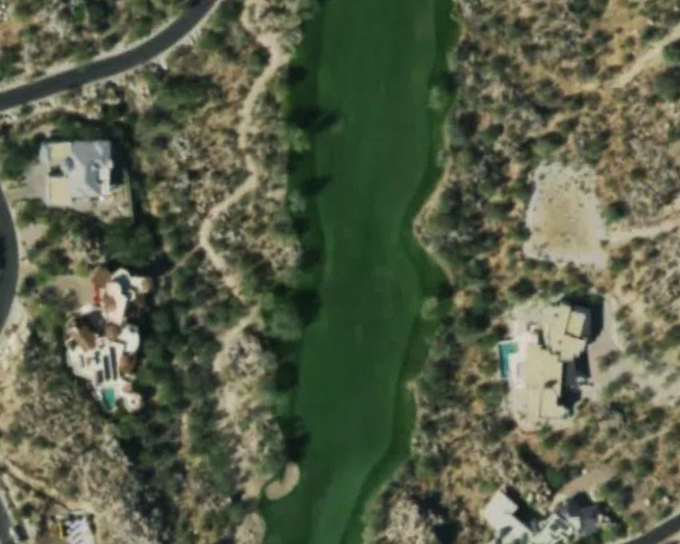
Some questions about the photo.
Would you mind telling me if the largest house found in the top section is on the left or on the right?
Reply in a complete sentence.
The largest house found in the top section is on the left side of the image.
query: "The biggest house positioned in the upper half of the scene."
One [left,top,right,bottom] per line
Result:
[39,141,134,219]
